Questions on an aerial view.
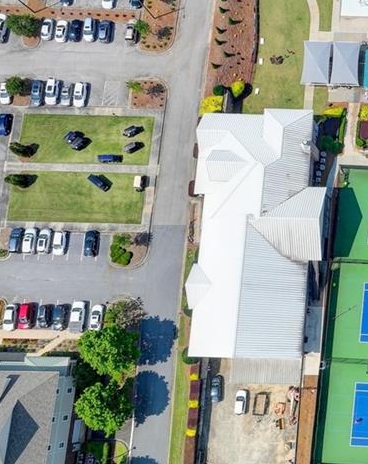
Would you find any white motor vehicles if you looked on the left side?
Yes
